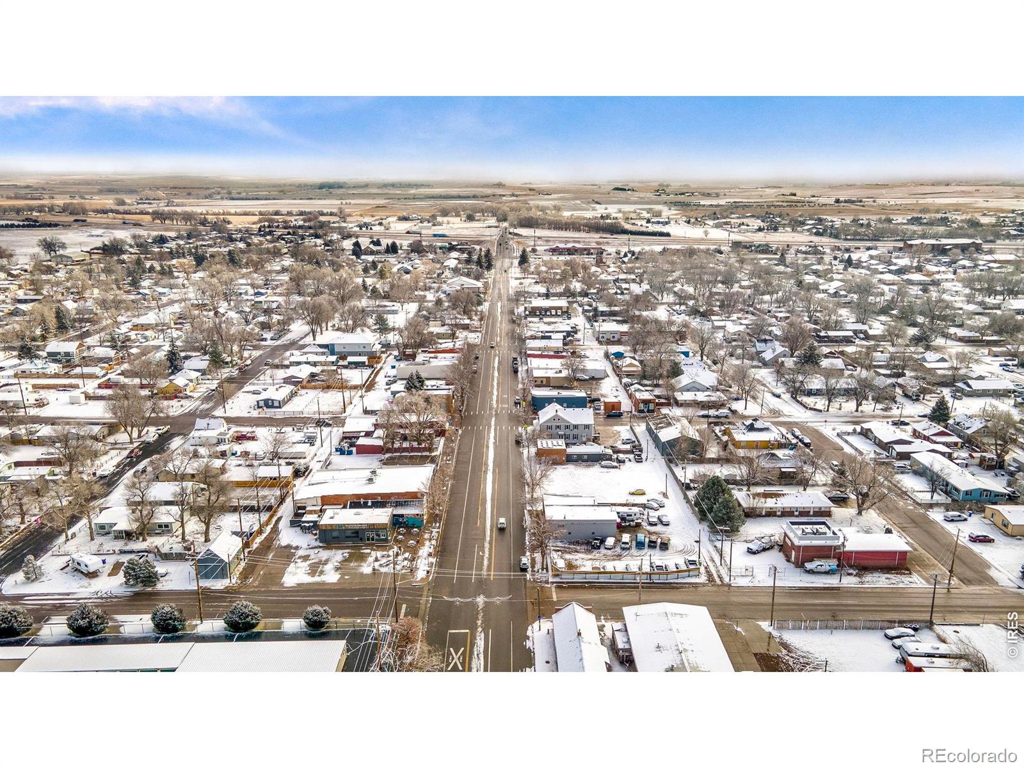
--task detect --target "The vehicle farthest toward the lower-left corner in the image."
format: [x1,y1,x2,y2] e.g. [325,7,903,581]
[66,548,106,575]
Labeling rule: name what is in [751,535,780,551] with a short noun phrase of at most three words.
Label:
vehicle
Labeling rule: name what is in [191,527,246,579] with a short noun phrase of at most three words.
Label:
building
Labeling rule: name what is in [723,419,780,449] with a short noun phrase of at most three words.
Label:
house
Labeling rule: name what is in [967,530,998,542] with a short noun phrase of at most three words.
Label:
vehicle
